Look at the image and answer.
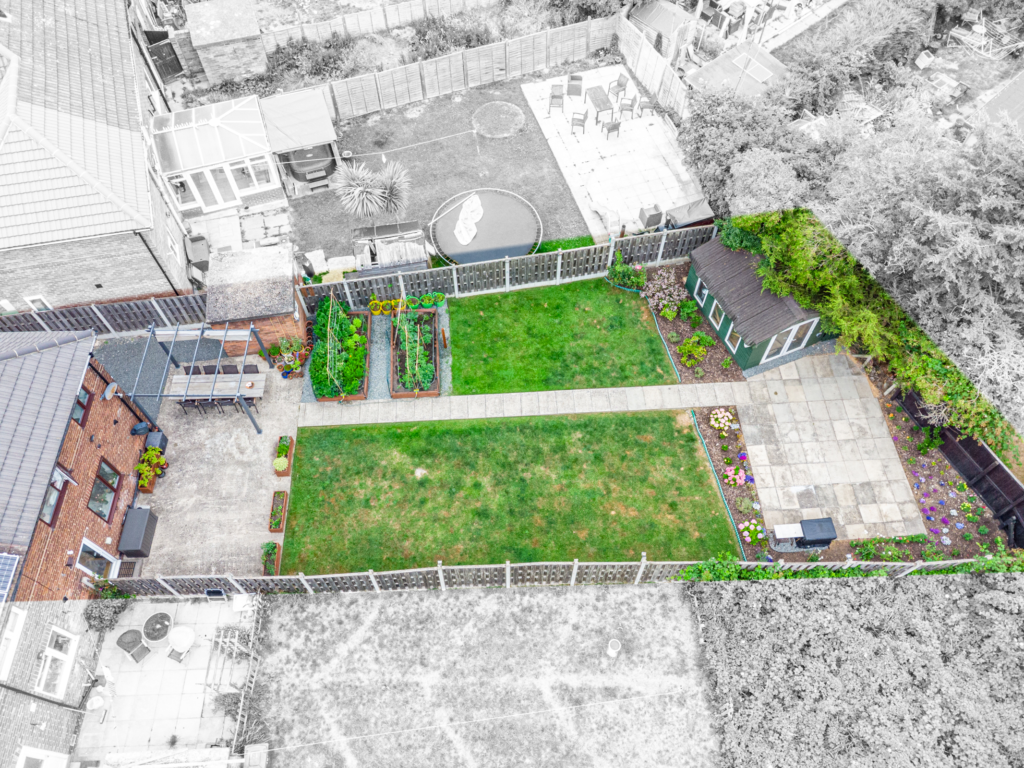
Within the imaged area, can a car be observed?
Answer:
No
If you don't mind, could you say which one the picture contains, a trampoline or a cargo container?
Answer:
trampoline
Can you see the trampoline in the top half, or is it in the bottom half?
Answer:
top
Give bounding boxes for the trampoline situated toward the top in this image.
[430,189,543,266]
